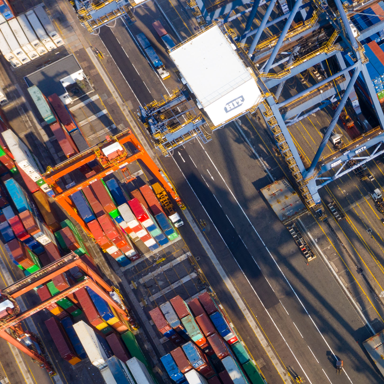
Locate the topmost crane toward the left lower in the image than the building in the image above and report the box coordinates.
[36,124,183,248]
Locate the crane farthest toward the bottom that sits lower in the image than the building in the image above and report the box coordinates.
[0,252,135,376]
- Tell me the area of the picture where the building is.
top left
